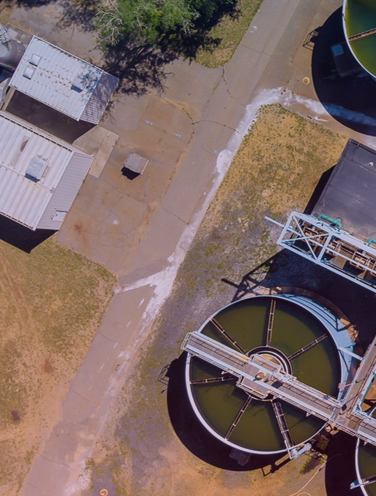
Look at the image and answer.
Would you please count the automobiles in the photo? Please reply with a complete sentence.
No automobiles are visible.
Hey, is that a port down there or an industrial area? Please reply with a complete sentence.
This looks like an industrial area.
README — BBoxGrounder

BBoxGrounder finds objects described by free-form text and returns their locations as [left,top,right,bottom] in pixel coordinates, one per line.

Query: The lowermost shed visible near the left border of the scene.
[0,108,93,231]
